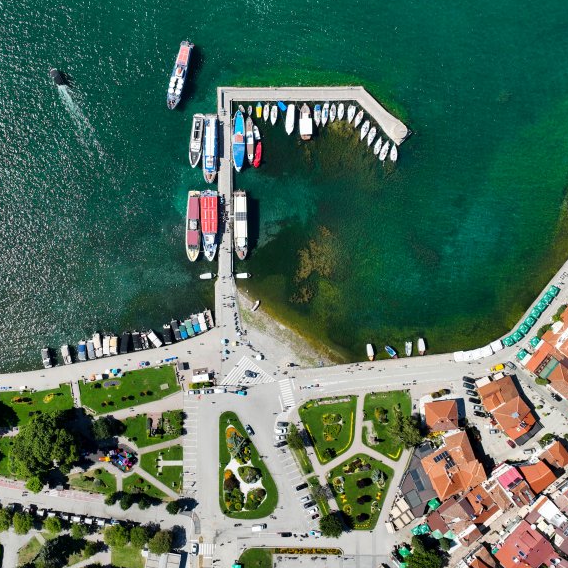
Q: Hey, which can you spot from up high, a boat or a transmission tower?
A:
boat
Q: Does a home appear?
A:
Yes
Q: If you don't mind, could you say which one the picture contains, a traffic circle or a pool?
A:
traffic circle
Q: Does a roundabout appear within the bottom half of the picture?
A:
Yes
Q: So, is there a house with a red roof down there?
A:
Yes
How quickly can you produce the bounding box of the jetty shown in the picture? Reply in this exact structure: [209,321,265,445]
[216,86,411,278]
